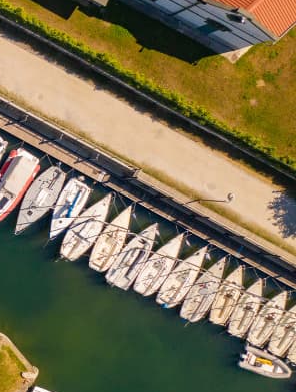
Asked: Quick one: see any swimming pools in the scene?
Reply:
No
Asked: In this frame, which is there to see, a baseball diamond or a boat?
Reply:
boat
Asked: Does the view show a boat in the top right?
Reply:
No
